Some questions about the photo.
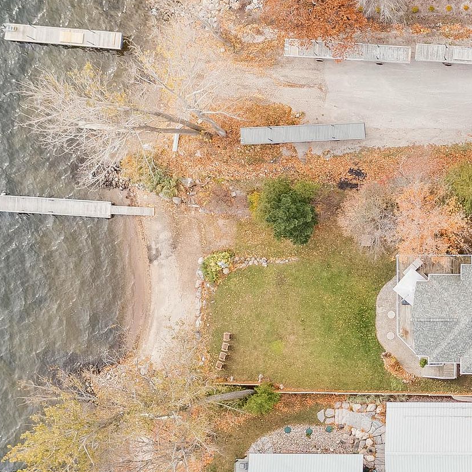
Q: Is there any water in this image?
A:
Yes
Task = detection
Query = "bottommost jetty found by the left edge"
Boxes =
[0,196,112,217]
